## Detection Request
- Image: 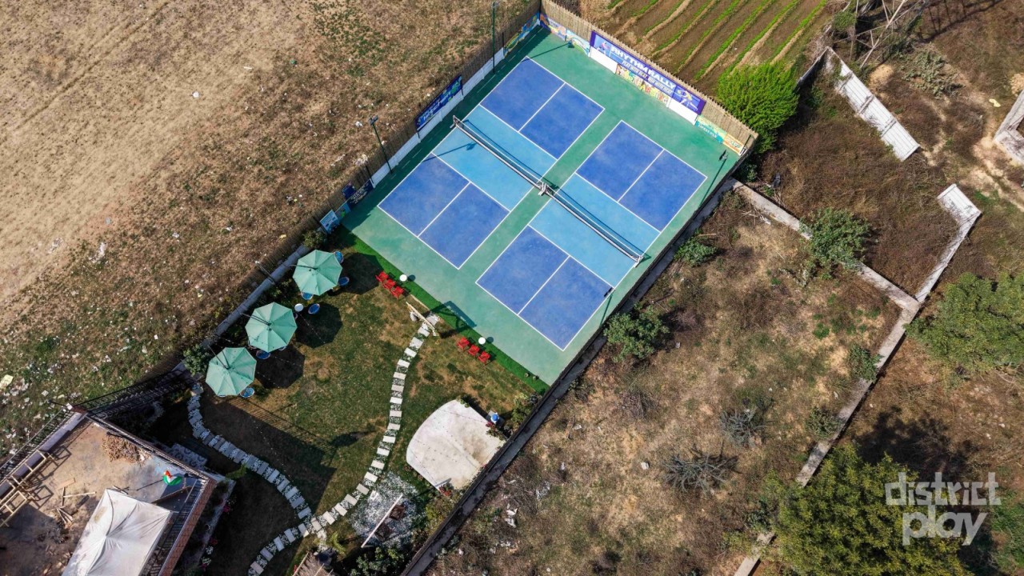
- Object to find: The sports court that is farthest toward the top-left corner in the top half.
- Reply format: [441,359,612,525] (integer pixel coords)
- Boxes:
[378,56,605,269]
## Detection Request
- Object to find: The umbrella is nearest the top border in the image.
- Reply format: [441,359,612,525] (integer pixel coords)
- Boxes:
[288,248,343,294]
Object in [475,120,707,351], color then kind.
blue sports court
